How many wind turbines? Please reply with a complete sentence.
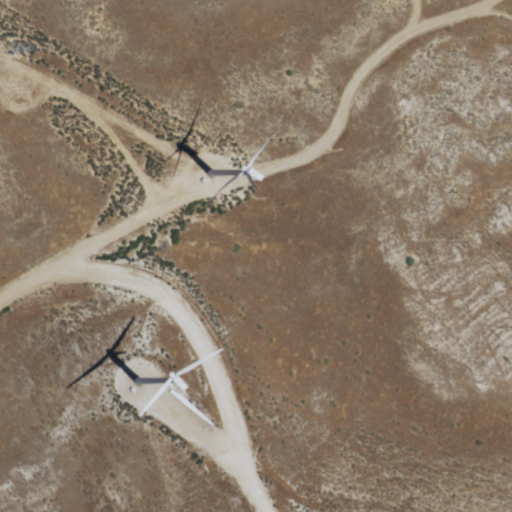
In total, 2 wind turbines can be seen.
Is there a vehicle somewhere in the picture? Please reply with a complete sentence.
No, there's no vehicle here.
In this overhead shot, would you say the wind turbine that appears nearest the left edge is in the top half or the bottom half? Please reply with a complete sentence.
The wind turbine that appears nearest the left edge sits in the bottom half of the picture.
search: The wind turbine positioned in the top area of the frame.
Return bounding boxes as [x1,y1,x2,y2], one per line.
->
[204,124,278,192]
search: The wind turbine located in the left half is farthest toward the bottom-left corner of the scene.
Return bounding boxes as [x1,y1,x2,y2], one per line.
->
[132,350,219,414]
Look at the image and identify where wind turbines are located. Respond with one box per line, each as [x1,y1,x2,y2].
[204,124,278,192]
[132,350,219,414]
